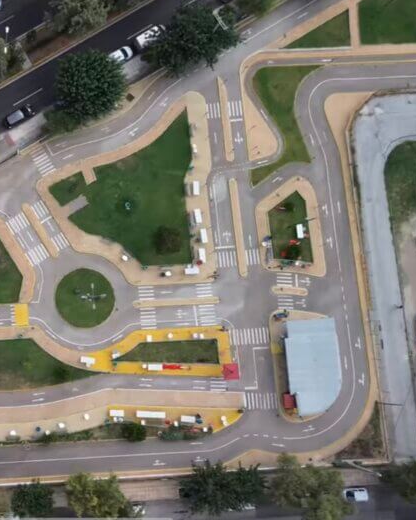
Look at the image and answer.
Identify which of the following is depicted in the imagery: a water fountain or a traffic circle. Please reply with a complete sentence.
Visible in the photo is a traffic circle.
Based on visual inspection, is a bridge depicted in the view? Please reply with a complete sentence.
No, the scene contains no bridge.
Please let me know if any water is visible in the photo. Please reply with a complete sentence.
No, there's no water in this view.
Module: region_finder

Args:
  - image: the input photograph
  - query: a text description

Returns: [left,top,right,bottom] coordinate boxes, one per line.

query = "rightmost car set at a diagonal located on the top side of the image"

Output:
[131,23,168,53]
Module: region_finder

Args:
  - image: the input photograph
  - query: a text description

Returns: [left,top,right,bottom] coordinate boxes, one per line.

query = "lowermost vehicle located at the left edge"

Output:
[2,104,34,129]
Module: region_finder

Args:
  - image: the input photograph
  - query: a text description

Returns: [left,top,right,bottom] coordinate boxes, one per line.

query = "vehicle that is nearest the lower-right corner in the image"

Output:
[342,487,370,501]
